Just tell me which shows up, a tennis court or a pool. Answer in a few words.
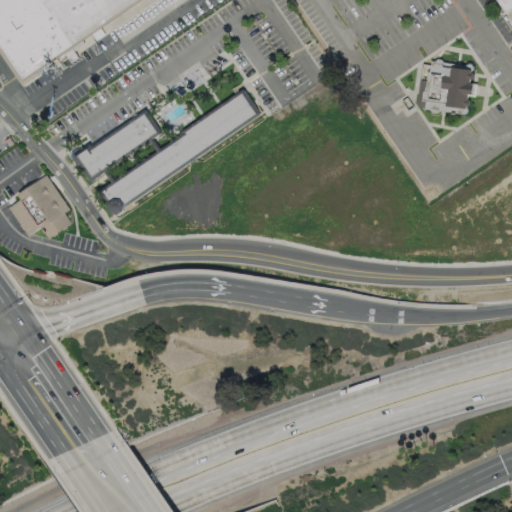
pool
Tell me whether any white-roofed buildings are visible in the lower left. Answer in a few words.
No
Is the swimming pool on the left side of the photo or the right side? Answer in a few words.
left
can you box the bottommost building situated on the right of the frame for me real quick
[418,57,477,116]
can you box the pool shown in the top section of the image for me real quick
[156,100,196,126]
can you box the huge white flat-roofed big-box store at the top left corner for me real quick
[0,0,146,82]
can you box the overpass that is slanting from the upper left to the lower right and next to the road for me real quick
[0,260,178,512]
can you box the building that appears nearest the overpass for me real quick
[10,176,71,238]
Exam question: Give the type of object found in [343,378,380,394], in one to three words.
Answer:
vehicle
